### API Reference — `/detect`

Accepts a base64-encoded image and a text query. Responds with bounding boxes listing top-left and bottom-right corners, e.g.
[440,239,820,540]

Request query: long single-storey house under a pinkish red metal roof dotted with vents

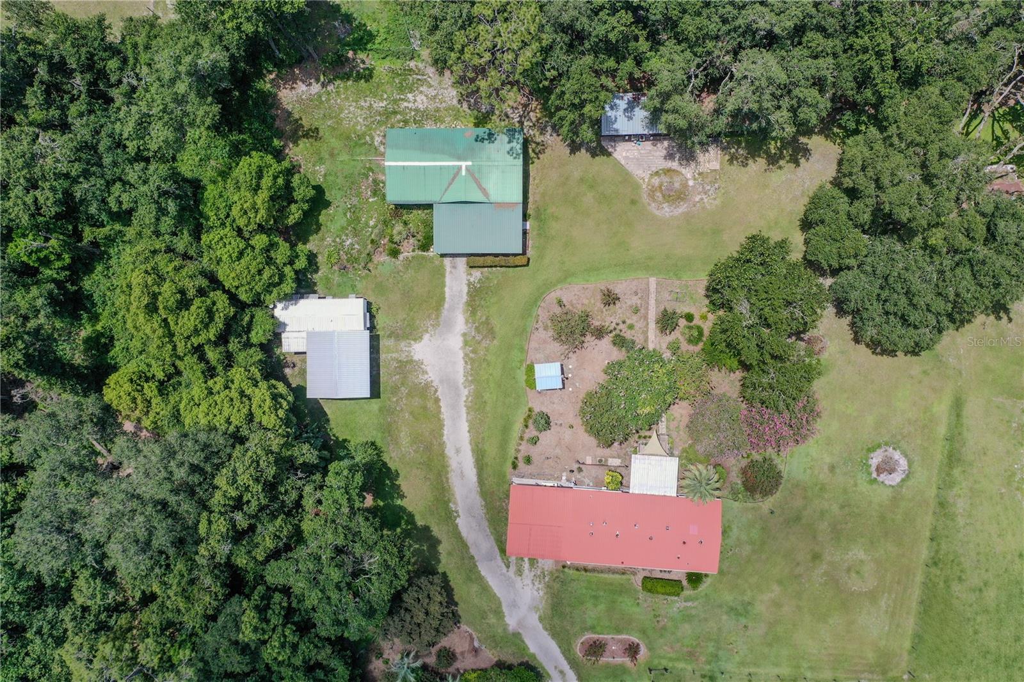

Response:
[507,482,722,575]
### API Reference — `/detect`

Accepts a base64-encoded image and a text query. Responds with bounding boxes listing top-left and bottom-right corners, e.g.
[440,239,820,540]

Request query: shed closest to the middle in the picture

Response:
[534,362,563,390]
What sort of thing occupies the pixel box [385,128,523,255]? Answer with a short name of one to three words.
barn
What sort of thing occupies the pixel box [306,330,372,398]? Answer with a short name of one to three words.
building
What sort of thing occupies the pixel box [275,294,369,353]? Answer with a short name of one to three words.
shed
